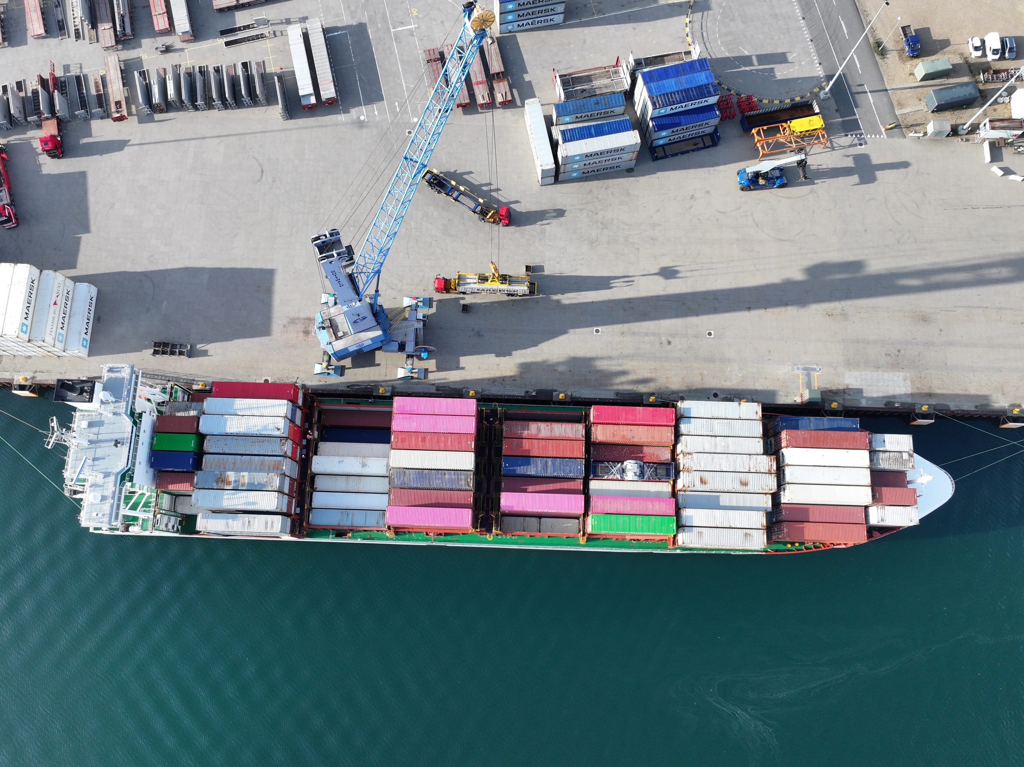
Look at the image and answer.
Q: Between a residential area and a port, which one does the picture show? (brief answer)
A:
port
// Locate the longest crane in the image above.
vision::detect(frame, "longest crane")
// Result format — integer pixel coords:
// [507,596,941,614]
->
[312,2,505,381]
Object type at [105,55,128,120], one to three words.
trailer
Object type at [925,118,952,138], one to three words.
shed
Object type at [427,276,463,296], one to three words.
vehicle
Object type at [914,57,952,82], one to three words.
shed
